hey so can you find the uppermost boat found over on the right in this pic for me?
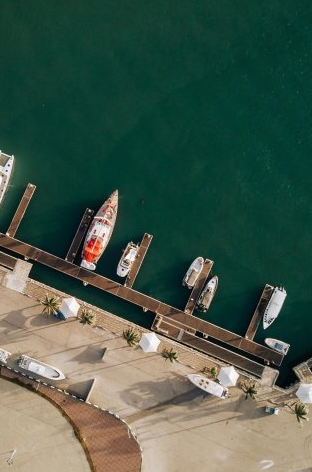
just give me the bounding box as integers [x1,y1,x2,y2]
[186,258,203,287]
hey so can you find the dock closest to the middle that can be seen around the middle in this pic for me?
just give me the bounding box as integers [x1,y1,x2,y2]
[123,233,153,289]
